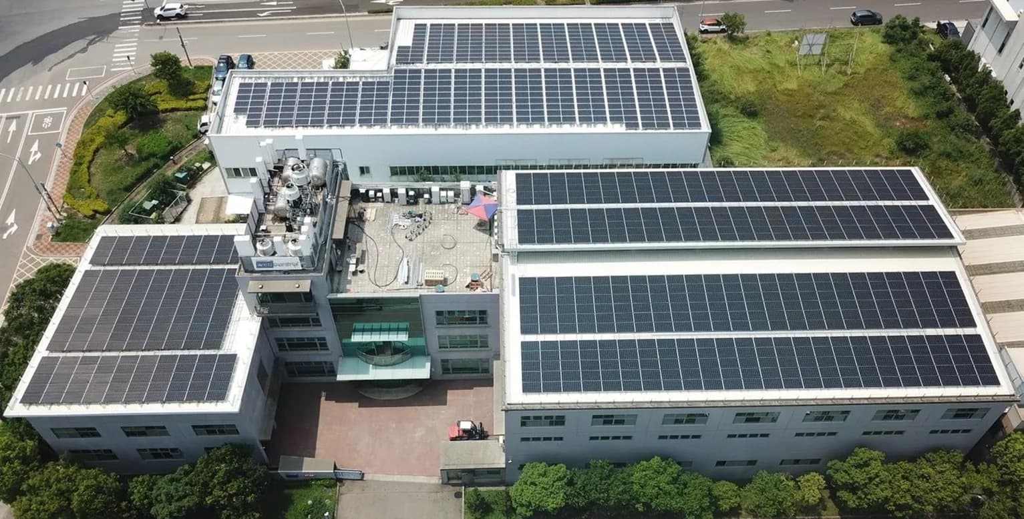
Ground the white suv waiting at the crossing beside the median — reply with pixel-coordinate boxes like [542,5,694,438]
[153,1,186,17]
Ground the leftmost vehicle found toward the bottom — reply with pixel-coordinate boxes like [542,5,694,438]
[448,415,494,440]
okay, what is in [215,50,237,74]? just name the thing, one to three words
car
